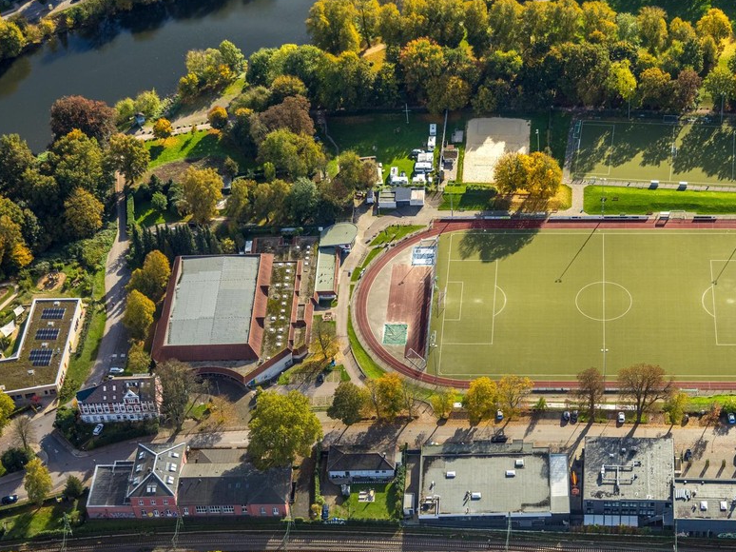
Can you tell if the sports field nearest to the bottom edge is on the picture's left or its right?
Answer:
right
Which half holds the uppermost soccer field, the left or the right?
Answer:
right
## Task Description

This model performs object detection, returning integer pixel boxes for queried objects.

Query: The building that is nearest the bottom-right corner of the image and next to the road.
[674,480,736,532]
